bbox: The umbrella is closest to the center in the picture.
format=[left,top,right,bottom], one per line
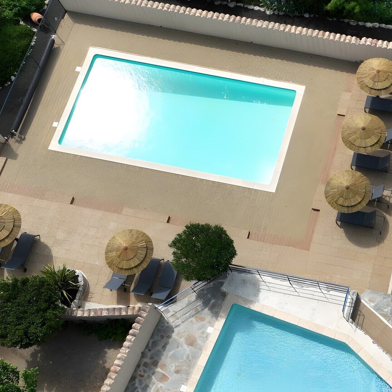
[103,231,154,278]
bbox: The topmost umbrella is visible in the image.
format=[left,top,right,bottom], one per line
[354,60,392,103]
